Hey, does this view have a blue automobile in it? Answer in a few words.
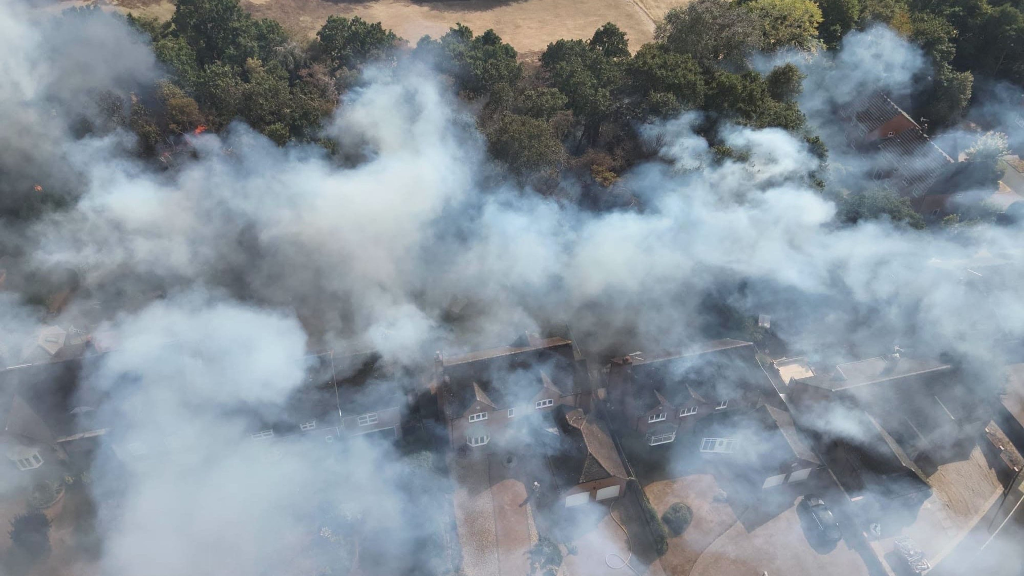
No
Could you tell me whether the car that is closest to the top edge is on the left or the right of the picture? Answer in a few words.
right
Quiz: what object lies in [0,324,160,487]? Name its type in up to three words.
house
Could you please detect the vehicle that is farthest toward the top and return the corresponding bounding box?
[800,501,844,550]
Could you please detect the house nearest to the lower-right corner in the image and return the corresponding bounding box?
[783,328,985,526]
